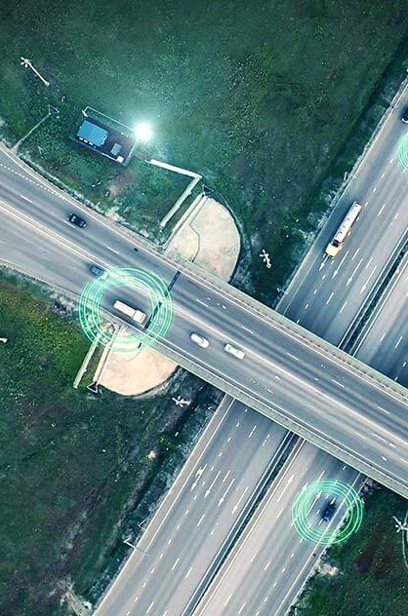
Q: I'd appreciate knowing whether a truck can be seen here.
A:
Yes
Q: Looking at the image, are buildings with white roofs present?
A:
No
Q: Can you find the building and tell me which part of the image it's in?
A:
top left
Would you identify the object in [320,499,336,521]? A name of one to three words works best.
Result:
car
